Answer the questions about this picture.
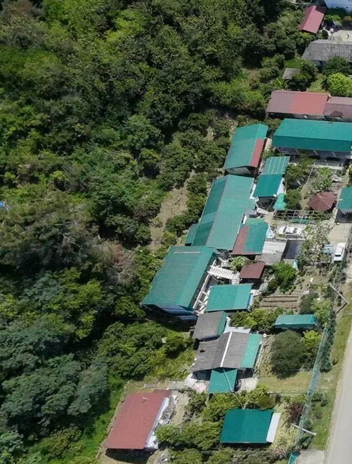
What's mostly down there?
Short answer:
trees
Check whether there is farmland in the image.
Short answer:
No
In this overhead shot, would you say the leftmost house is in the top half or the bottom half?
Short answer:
bottom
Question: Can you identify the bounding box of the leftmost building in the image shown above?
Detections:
[107,390,184,450]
